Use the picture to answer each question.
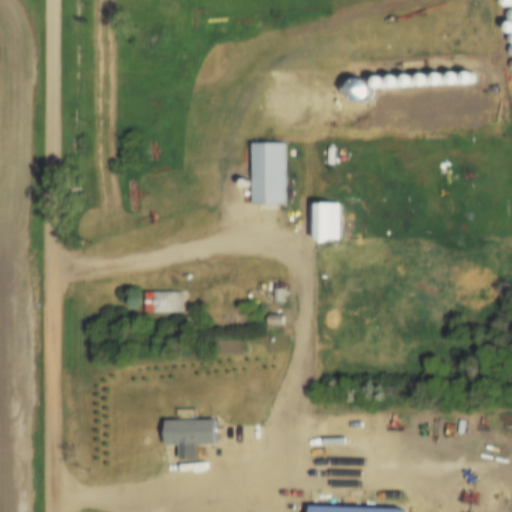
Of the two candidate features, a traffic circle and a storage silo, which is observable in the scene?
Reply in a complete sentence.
There is a storage silo in the scene.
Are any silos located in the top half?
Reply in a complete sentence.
Yes, a silo is visible in the top half.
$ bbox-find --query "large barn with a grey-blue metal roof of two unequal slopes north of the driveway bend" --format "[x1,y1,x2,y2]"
[252,142,288,210]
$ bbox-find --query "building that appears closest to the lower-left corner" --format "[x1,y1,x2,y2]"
[162,410,218,459]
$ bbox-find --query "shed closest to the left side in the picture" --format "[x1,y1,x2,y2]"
[144,292,189,313]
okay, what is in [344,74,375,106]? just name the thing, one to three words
silo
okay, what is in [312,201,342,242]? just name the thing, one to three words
shed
